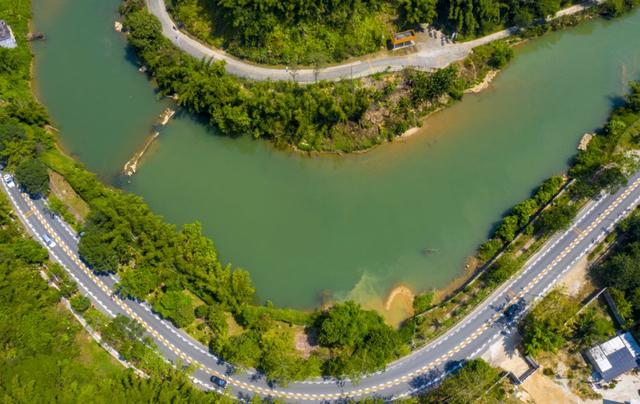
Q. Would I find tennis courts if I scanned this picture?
No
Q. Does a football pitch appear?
No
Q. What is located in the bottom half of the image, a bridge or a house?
house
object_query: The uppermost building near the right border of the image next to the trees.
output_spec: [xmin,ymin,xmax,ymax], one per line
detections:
[580,330,636,382]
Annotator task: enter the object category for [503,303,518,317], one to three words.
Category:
vehicle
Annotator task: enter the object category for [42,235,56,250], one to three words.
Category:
vehicle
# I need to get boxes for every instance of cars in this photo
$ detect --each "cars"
[3,173,14,188]
[503,303,518,317]
[42,235,56,250]
[209,376,226,387]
